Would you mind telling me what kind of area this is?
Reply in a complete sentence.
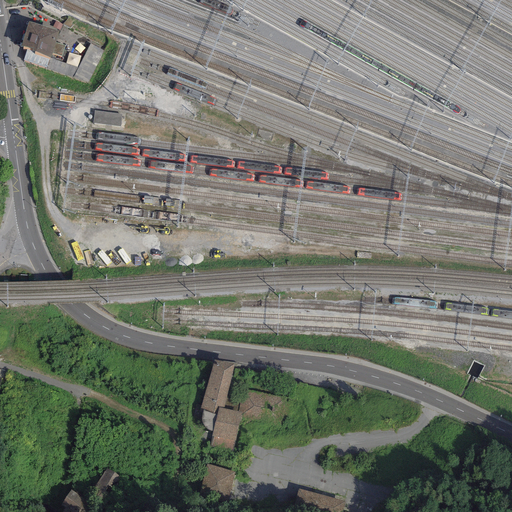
The picture captures a rail yard.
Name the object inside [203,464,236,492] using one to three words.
house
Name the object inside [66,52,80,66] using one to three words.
umbrella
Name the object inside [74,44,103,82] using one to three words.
building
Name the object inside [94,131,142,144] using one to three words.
rail car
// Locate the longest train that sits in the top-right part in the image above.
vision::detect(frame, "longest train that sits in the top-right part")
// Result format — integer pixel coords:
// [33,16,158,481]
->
[296,16,462,112]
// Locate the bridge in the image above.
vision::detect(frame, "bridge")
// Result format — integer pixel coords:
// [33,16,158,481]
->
[0,266,113,318]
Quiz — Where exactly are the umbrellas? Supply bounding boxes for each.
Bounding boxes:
[66,52,80,66]
[74,42,86,54]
